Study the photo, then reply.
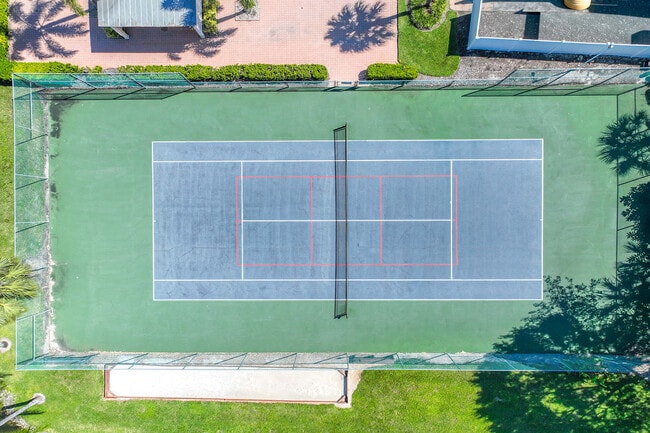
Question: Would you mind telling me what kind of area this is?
sports ground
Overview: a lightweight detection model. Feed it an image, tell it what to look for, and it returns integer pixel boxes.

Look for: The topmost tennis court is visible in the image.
[46,85,650,352]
